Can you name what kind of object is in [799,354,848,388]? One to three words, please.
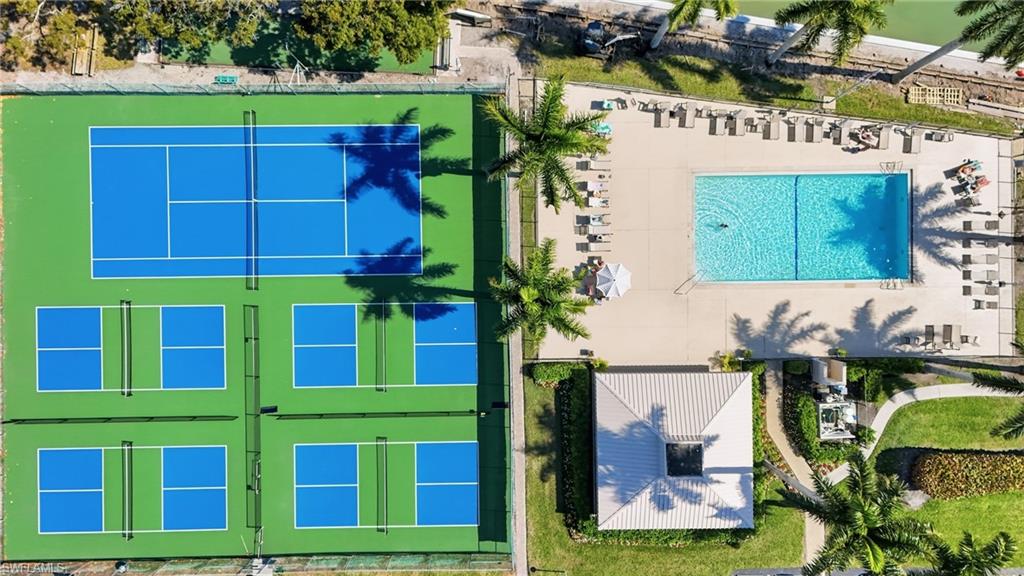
shed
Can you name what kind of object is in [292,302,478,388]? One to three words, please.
sports court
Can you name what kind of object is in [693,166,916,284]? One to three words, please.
swimming pool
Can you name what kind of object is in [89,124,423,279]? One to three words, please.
tennis court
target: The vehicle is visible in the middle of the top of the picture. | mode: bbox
[578,22,642,56]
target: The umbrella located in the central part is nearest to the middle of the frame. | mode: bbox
[598,263,630,296]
